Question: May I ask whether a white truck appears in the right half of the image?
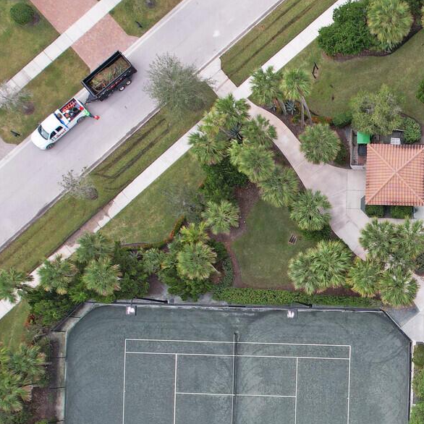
No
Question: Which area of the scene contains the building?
right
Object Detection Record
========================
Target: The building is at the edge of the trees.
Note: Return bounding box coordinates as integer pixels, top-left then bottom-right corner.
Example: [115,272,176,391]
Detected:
[363,142,424,208]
